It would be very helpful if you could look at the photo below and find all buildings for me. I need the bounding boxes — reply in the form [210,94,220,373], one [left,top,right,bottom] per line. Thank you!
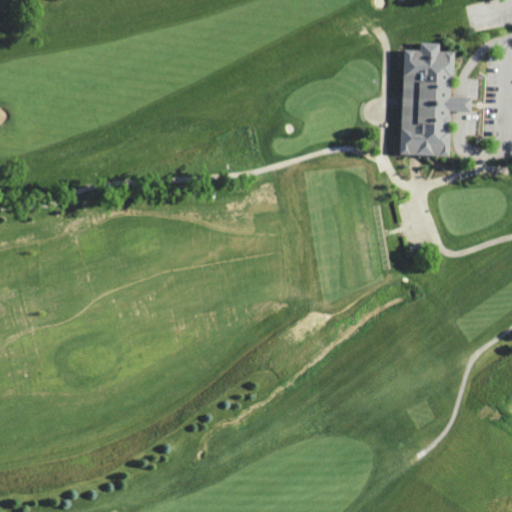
[400,43,470,158]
